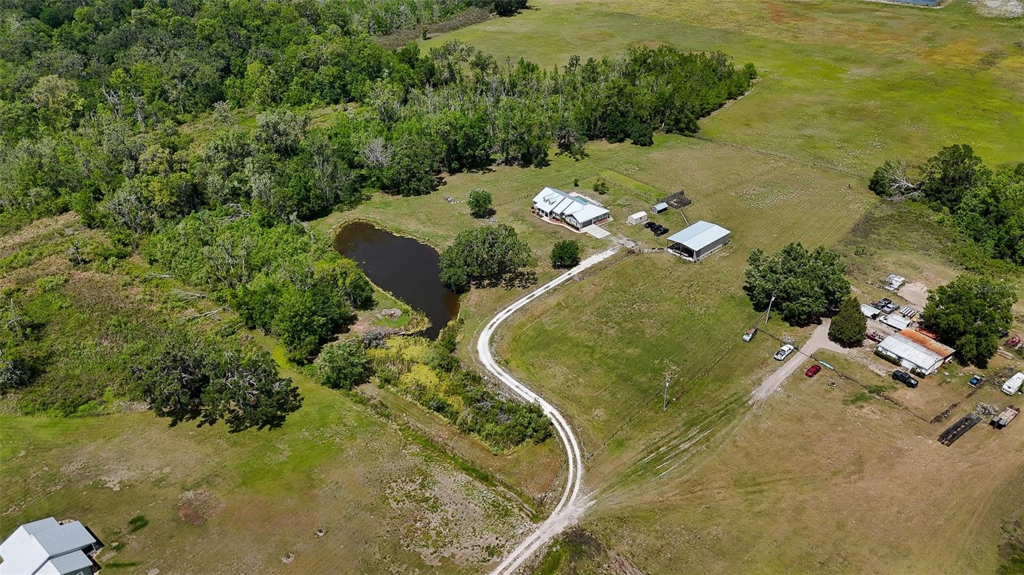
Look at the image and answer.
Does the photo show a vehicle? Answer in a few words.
Yes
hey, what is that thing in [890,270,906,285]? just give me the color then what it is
white vehicle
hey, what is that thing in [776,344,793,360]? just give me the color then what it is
white vehicle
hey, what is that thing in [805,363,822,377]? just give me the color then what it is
red car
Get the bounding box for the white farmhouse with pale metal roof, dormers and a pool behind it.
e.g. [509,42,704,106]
[529,186,609,230]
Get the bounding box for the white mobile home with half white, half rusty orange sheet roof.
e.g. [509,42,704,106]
[877,328,955,377]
